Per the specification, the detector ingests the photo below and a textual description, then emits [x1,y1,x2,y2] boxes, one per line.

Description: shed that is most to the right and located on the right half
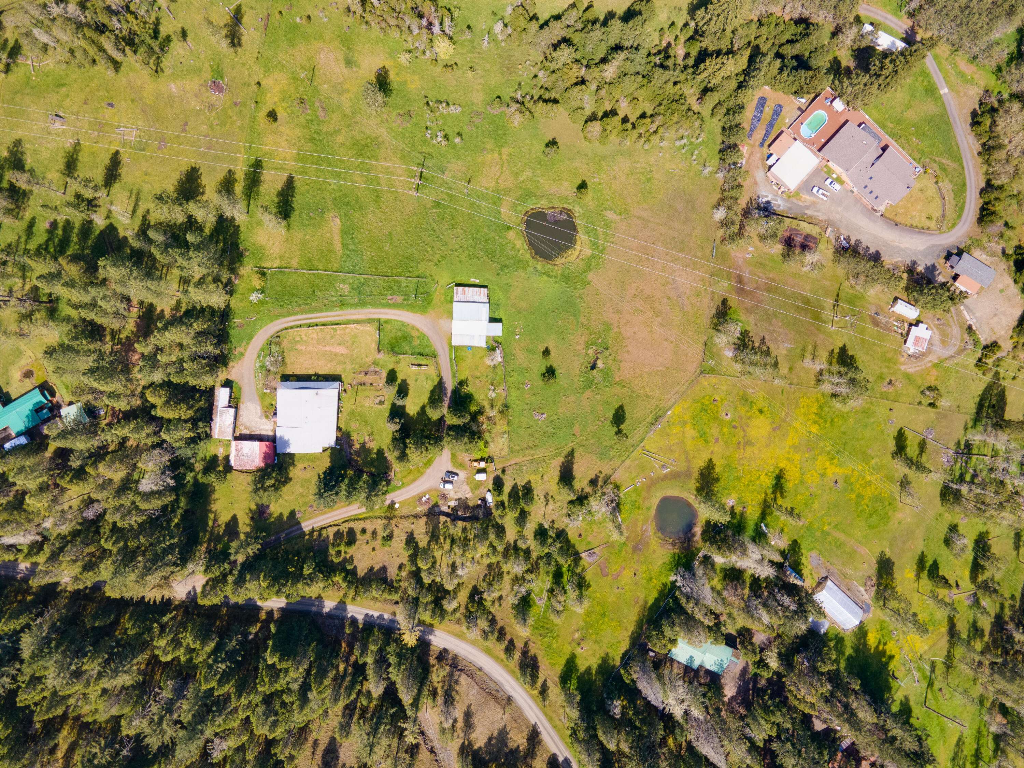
[944,252,996,294]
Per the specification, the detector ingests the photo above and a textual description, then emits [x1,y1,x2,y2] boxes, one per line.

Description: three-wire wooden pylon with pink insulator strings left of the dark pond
[407,166,423,203]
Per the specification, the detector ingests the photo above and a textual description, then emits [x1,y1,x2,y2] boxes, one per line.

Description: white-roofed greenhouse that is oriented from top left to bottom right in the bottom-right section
[811,577,863,629]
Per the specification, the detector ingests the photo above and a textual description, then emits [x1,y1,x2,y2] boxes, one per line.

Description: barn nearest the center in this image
[452,287,502,346]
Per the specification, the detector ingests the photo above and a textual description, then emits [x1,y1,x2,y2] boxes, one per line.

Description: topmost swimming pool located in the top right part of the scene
[800,110,828,139]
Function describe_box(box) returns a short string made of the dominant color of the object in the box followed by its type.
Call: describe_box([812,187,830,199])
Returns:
white vehicle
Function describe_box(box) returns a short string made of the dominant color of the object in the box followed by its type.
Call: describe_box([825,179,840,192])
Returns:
white vehicle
